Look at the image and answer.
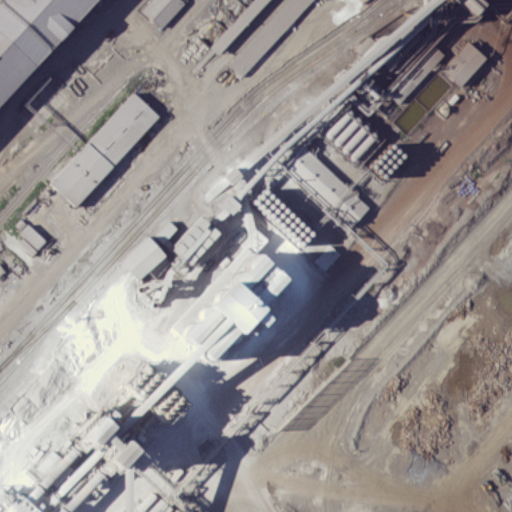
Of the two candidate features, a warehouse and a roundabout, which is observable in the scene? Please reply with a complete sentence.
Visible in the photo is a warehouse.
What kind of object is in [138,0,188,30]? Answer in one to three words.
shed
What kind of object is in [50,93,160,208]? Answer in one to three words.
warehouse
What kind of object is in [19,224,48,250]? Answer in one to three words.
building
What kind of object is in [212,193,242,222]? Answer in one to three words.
house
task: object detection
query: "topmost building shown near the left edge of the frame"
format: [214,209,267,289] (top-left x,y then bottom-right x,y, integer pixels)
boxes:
[0,0,100,108]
